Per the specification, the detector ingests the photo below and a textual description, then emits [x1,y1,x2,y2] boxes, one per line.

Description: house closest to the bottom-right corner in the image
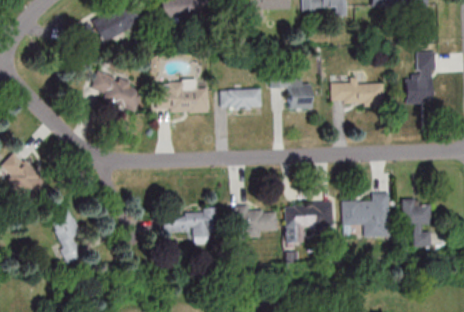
[398,197,431,248]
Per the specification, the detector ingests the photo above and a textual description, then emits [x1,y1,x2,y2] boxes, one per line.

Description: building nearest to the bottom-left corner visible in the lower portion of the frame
[53,212,80,264]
